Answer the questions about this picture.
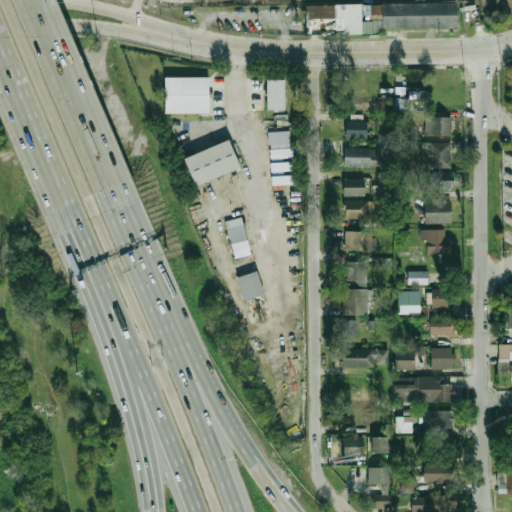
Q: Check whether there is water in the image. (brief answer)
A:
No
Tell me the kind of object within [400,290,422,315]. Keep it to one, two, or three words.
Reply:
shed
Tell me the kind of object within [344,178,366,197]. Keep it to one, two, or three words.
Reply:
house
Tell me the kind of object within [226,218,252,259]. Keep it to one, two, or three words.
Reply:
building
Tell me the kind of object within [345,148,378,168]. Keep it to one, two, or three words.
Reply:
house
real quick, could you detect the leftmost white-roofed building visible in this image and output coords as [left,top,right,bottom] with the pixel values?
[165,76,210,114]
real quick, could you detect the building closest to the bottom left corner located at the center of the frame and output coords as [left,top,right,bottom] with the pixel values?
[239,272,264,300]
